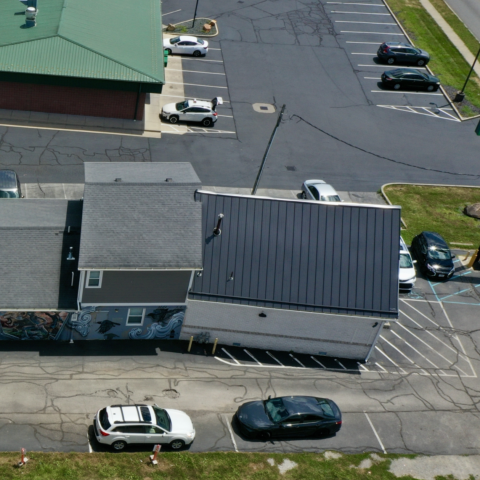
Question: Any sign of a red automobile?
No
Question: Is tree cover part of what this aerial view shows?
No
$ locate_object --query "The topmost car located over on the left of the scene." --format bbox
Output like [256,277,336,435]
[164,34,211,56]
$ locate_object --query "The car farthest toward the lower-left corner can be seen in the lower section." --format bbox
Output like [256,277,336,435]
[93,402,199,450]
